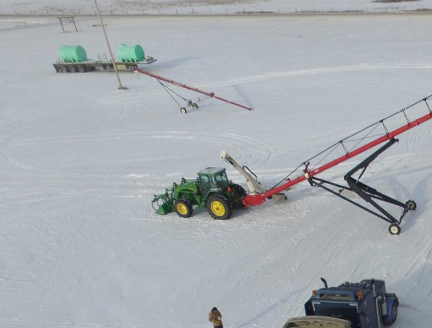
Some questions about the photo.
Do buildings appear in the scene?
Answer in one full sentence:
No, there isn't any building down there.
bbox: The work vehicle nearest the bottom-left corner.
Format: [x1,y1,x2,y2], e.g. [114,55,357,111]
[153,170,241,219]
